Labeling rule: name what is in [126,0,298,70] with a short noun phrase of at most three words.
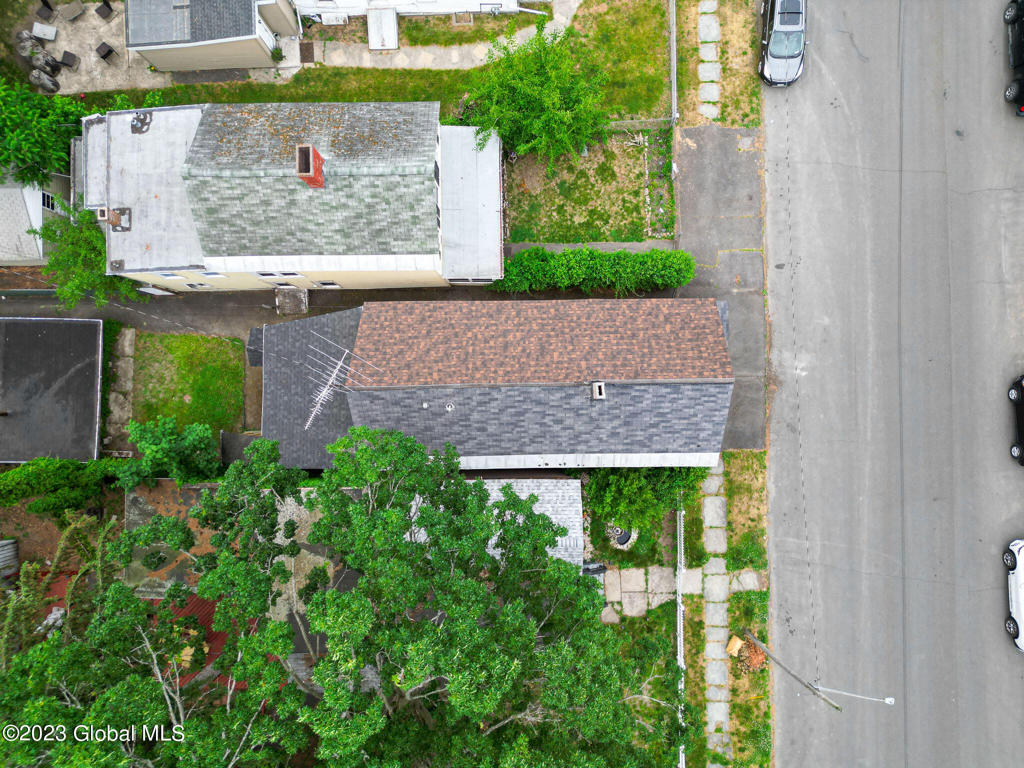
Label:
building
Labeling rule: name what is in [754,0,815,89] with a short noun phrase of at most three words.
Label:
car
